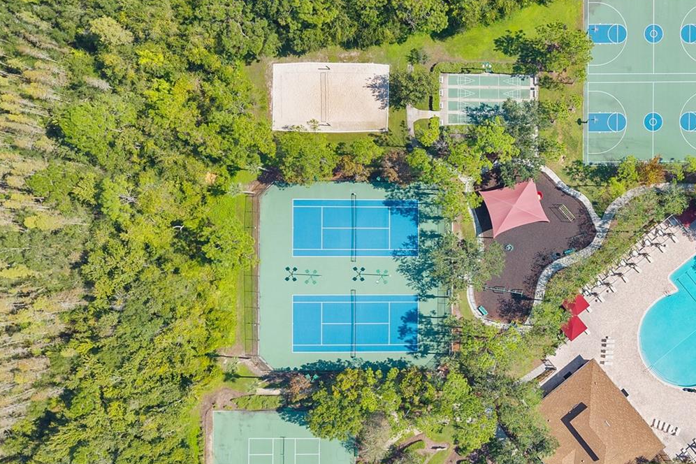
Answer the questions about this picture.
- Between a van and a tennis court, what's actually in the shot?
tennis court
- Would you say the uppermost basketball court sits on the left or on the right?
right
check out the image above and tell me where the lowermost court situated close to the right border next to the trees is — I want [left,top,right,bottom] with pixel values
[585,78,696,164]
